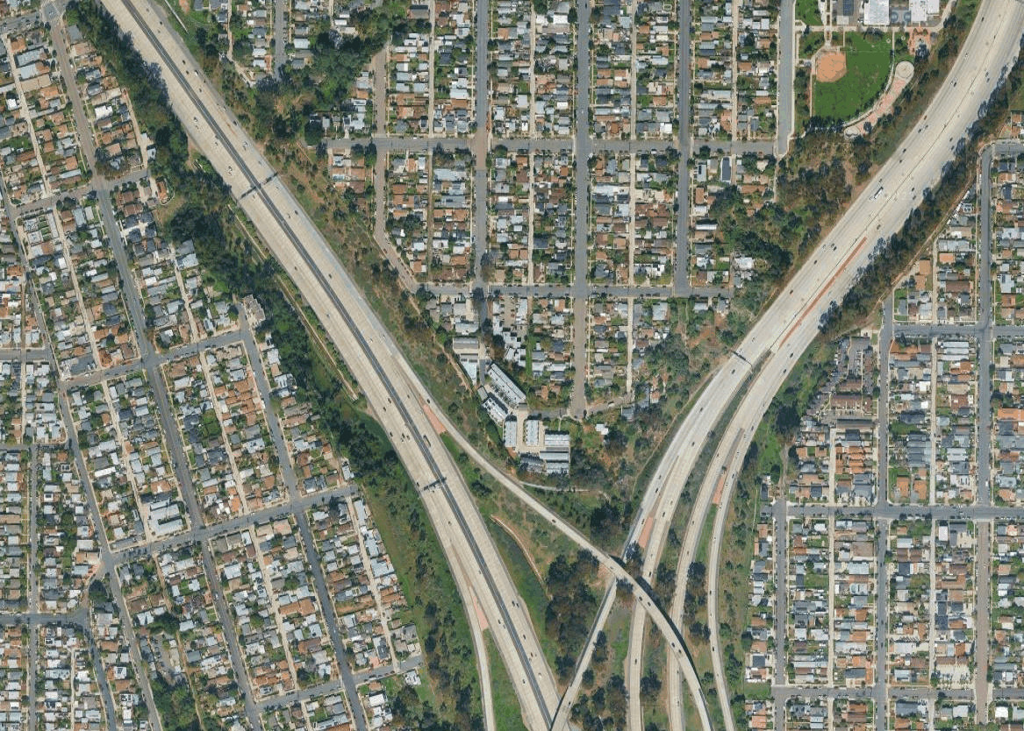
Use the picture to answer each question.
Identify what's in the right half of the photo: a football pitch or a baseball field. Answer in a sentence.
You can see a baseball field in the right half of the photo.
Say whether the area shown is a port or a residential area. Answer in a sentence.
It's a residential area.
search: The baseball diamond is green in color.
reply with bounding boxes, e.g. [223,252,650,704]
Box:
[814,32,892,116]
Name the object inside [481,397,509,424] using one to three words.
building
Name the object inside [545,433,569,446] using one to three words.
building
